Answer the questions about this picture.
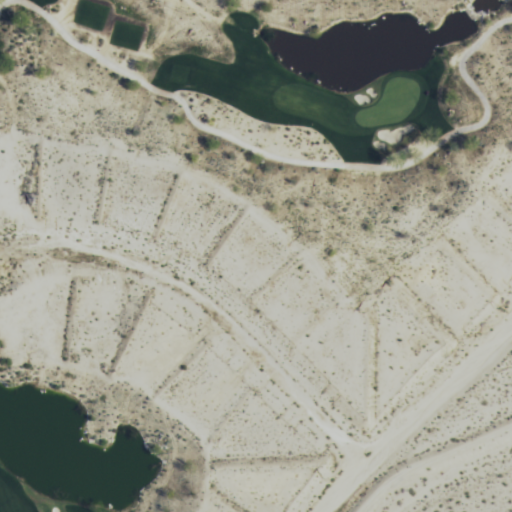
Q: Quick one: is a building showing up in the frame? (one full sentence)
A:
No, the frame has no building in it.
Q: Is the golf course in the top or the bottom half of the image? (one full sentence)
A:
The top half of the photo is where the golf course is.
